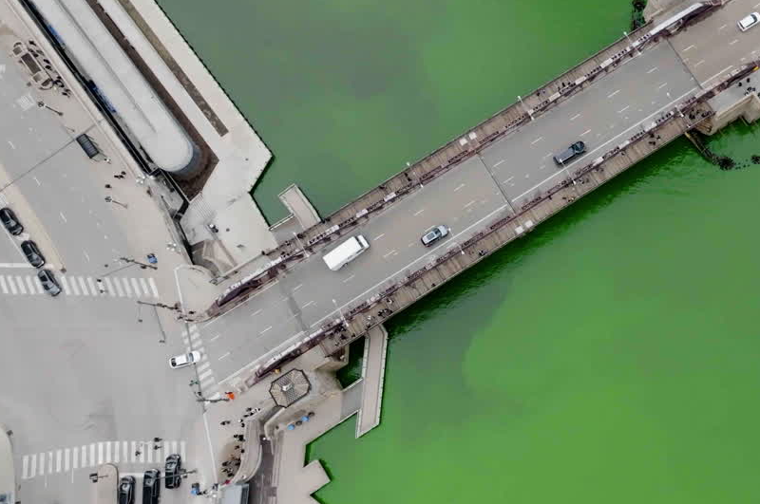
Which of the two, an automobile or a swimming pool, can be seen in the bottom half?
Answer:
automobile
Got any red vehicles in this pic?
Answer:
No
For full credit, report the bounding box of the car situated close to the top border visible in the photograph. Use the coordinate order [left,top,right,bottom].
[736,12,760,31]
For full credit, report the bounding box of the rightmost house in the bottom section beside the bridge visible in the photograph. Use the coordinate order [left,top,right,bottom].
[268,369,323,408]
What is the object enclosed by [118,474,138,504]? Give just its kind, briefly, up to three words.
car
